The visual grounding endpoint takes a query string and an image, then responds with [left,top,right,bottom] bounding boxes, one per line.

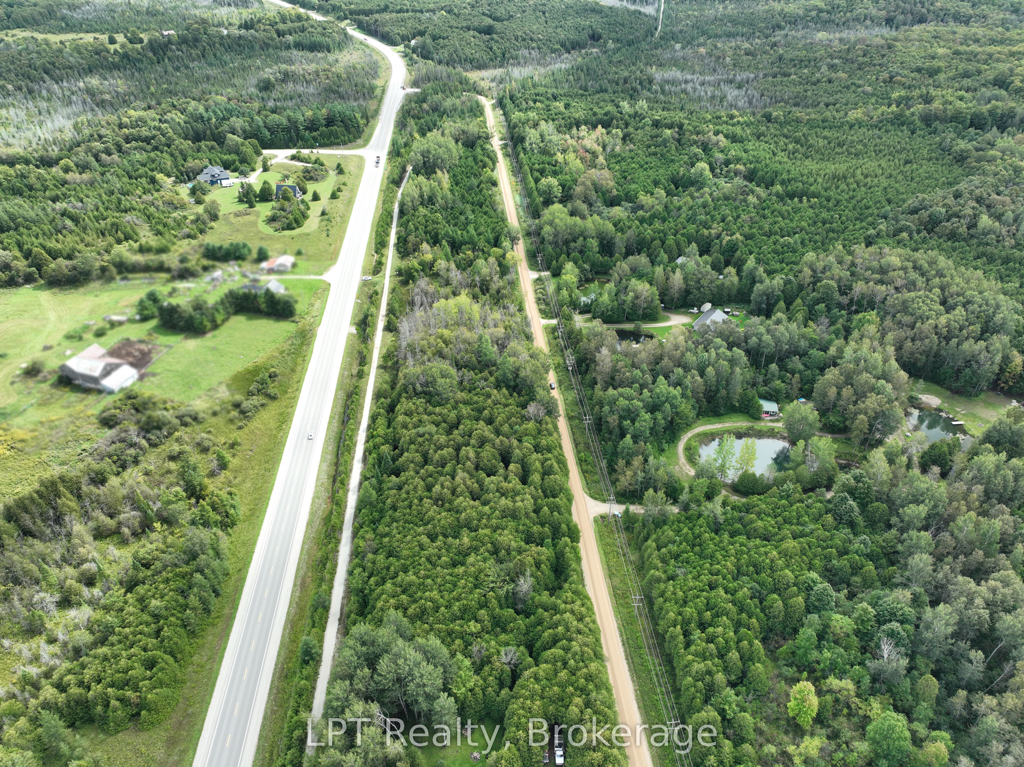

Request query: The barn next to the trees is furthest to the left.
[65,331,142,392]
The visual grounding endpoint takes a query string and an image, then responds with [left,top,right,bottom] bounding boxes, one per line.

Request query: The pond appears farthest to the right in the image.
[907,407,973,455]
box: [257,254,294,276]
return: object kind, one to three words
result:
shed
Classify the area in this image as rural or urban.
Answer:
rural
